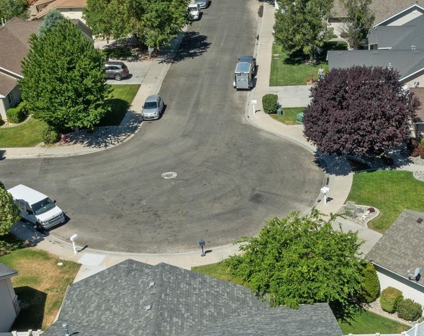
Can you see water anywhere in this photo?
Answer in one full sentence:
No, there's no water in this view.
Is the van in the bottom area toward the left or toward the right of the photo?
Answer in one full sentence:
It is on the left.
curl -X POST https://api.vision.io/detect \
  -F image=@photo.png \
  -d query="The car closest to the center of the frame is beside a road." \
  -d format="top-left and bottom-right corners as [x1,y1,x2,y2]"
[141,96,164,118]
